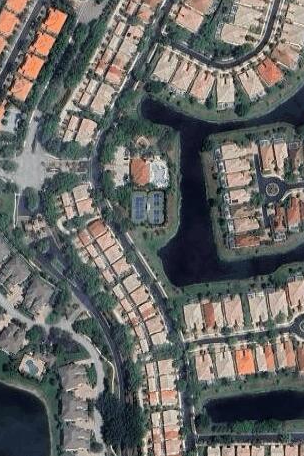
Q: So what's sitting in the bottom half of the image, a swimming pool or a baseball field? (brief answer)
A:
swimming pool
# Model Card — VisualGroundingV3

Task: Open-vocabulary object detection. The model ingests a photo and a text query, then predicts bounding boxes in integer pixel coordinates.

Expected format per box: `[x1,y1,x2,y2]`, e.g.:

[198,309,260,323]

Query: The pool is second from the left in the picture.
[20,355,45,380]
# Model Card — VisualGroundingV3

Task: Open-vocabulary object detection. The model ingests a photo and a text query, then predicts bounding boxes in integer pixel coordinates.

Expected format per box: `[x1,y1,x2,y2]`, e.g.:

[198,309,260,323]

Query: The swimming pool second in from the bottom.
[150,159,169,188]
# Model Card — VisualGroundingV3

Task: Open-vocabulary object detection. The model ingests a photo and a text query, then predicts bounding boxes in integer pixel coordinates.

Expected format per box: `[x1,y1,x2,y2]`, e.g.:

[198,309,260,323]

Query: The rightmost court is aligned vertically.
[149,190,164,224]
